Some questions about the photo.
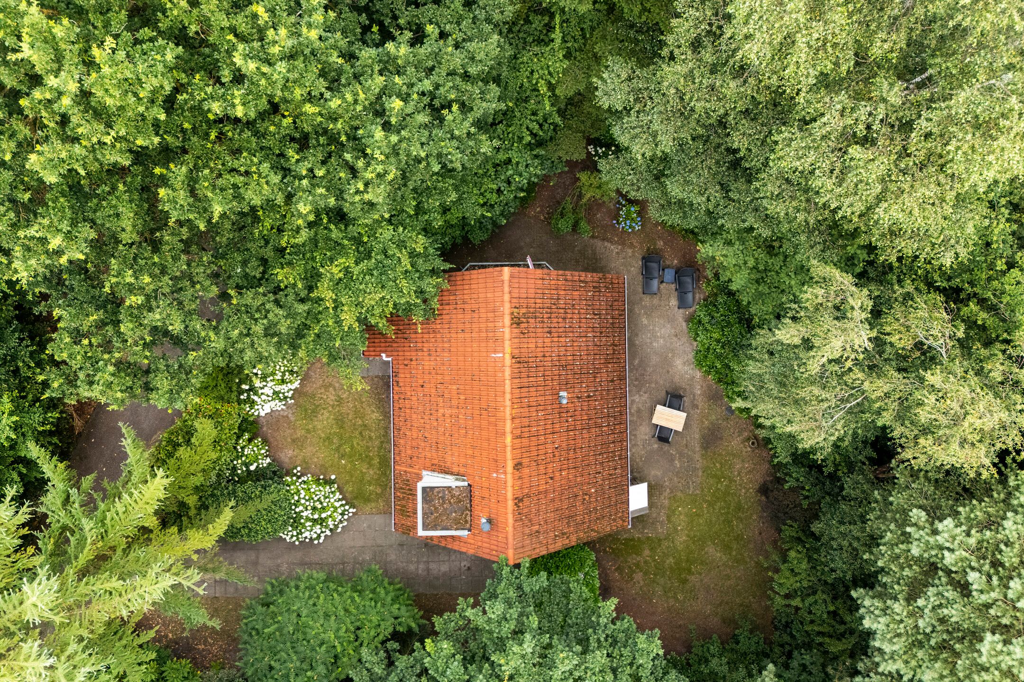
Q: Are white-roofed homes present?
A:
No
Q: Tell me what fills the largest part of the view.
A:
trees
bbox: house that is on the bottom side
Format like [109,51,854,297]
[358,262,648,566]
